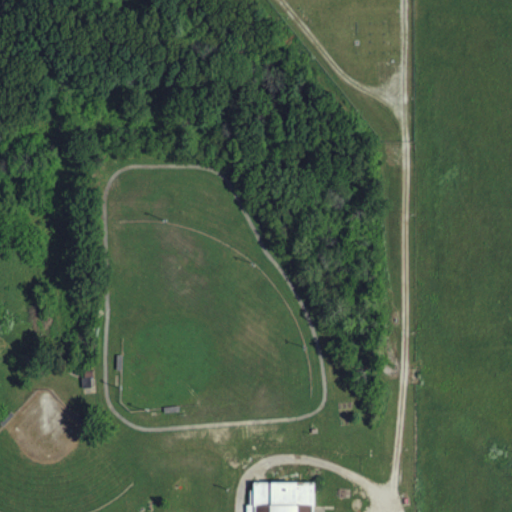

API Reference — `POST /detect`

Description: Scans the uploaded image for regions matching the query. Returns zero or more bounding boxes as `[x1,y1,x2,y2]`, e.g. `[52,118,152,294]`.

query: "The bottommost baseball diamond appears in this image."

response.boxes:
[0,387,134,512]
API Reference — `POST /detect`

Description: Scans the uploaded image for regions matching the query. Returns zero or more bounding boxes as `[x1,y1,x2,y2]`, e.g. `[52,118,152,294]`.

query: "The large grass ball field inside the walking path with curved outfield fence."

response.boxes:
[119,220,313,418]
